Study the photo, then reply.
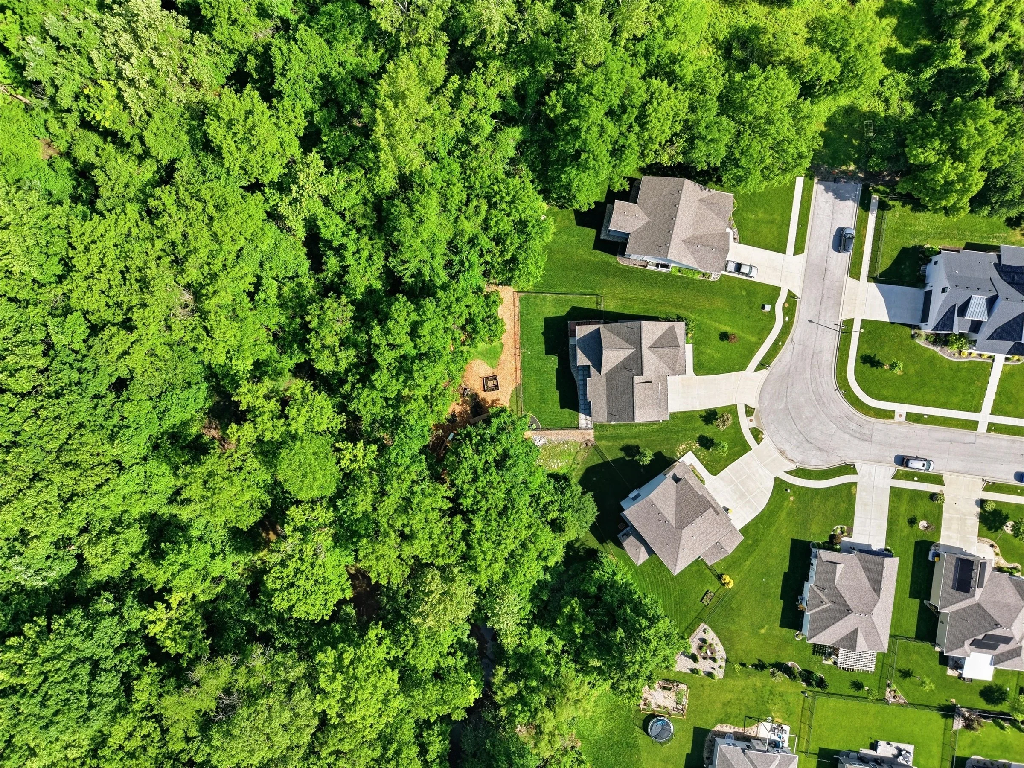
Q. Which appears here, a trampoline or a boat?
trampoline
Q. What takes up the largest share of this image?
trees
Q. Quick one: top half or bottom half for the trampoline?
bottom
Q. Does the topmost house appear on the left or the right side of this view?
right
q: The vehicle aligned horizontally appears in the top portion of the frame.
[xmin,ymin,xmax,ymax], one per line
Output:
[724,260,759,278]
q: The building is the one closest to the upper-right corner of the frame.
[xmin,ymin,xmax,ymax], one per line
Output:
[921,244,1024,357]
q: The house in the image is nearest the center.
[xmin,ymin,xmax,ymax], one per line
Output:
[576,321,686,422]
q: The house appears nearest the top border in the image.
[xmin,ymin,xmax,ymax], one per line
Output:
[609,176,734,273]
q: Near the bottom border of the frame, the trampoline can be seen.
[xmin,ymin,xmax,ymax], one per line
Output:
[648,717,676,746]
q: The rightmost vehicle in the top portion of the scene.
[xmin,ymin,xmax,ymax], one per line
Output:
[839,227,856,254]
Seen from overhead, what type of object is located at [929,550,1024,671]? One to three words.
house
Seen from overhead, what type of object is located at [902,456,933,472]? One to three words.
vehicle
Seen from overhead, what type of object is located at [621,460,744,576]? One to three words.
house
